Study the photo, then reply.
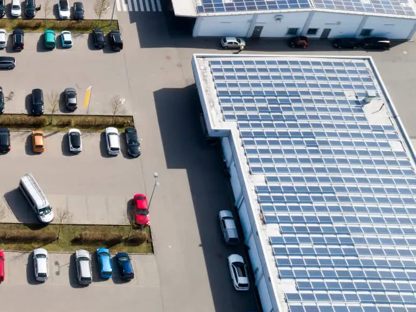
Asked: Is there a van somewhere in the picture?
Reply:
Yes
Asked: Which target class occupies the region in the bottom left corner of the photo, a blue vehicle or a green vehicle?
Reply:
blue vehicle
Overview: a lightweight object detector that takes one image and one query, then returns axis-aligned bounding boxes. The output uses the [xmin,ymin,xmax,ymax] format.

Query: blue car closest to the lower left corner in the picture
[94,249,114,281]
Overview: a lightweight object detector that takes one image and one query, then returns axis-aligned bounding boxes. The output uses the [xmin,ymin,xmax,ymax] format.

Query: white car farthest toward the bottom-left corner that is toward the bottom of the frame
[32,249,50,284]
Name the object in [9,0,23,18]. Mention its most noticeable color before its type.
white car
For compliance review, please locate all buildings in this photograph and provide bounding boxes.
[189,55,416,312]
[171,0,416,40]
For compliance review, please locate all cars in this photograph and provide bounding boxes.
[114,249,137,286]
[217,212,243,246]
[131,195,151,226]
[30,129,45,154]
[221,36,246,50]
[32,249,50,284]
[90,30,106,51]
[9,0,23,18]
[286,36,311,51]
[67,130,83,154]
[0,88,6,112]
[94,249,114,281]
[124,129,142,157]
[226,257,252,290]
[60,30,73,50]
[64,89,78,112]
[11,30,25,52]
[0,0,7,18]
[359,36,392,51]
[331,36,363,50]
[73,0,87,22]
[23,0,42,19]
[0,127,12,154]
[56,0,72,21]
[0,30,8,50]
[0,56,18,71]
[30,88,45,116]
[74,251,93,287]
[104,128,121,157]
